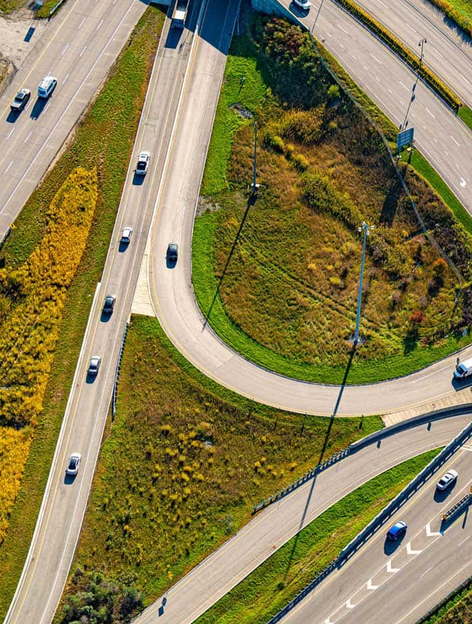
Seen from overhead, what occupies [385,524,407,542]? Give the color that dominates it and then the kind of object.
blue car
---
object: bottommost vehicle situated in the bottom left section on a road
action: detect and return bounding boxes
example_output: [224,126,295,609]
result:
[66,456,80,477]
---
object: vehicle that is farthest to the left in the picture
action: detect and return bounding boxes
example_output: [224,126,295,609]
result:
[10,91,29,111]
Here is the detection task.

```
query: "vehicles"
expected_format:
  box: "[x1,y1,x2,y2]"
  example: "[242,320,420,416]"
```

[453,359,472,381]
[167,245,178,262]
[385,524,407,542]
[120,229,133,245]
[66,456,80,477]
[135,154,149,175]
[103,295,115,314]
[435,471,458,492]
[38,79,56,97]
[10,91,29,111]
[87,357,100,377]
[293,0,311,10]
